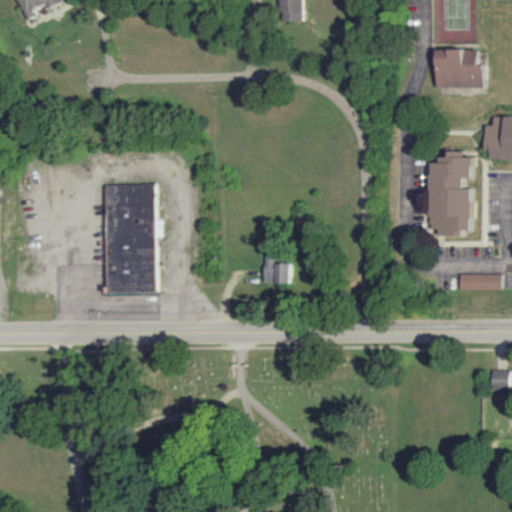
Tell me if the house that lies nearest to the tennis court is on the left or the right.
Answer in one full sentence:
You can find the house that lies nearest to the tennis court on the right side of the picture.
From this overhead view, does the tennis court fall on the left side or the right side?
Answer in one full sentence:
The tennis court is on the right side of the image.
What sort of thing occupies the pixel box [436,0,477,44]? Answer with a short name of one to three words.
tennis court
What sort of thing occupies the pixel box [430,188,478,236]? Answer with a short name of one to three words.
building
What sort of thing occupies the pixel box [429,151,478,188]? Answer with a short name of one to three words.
building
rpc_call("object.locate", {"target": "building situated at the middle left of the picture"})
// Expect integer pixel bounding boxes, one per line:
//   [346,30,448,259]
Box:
[104,182,166,294]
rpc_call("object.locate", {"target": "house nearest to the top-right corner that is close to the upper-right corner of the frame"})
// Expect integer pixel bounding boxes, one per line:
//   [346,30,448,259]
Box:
[432,50,490,88]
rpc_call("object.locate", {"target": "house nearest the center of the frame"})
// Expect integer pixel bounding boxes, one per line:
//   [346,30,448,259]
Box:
[264,257,292,284]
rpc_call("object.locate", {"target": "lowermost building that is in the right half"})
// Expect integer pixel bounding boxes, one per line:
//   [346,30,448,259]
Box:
[490,370,511,389]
